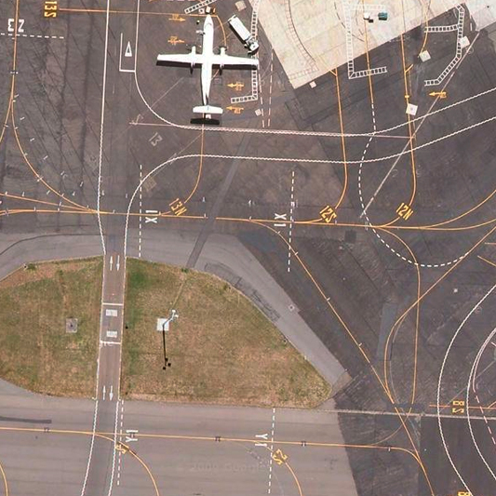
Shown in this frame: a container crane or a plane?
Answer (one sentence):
It is a plane that can be seen here.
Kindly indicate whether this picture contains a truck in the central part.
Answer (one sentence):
No, I see no truck in the central part.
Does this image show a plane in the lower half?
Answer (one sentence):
No, there's no plane to be seen in the lower half.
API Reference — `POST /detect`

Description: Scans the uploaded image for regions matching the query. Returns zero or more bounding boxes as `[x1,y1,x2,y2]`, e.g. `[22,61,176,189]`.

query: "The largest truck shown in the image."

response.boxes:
[229,14,259,50]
